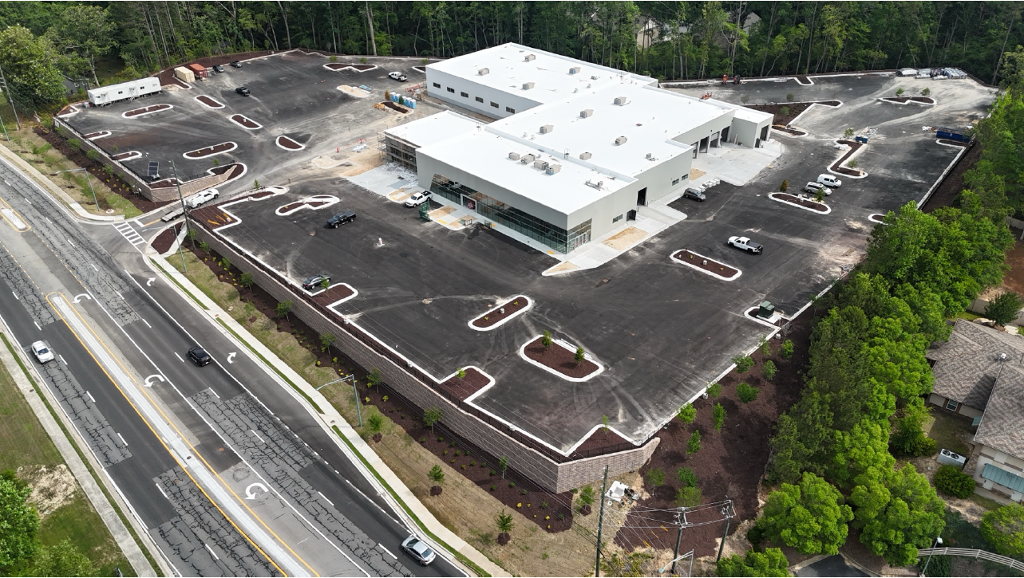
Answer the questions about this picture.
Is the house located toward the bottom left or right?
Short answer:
right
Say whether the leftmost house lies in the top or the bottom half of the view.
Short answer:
top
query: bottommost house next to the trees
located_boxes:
[929,300,1024,481]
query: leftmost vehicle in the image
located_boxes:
[30,339,51,360]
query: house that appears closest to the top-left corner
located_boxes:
[55,83,92,107]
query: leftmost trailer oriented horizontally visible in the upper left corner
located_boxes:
[87,76,160,105]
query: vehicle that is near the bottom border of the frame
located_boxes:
[398,533,437,565]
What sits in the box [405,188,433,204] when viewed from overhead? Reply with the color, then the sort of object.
white vehicle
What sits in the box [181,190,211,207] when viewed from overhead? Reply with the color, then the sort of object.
white vehicle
